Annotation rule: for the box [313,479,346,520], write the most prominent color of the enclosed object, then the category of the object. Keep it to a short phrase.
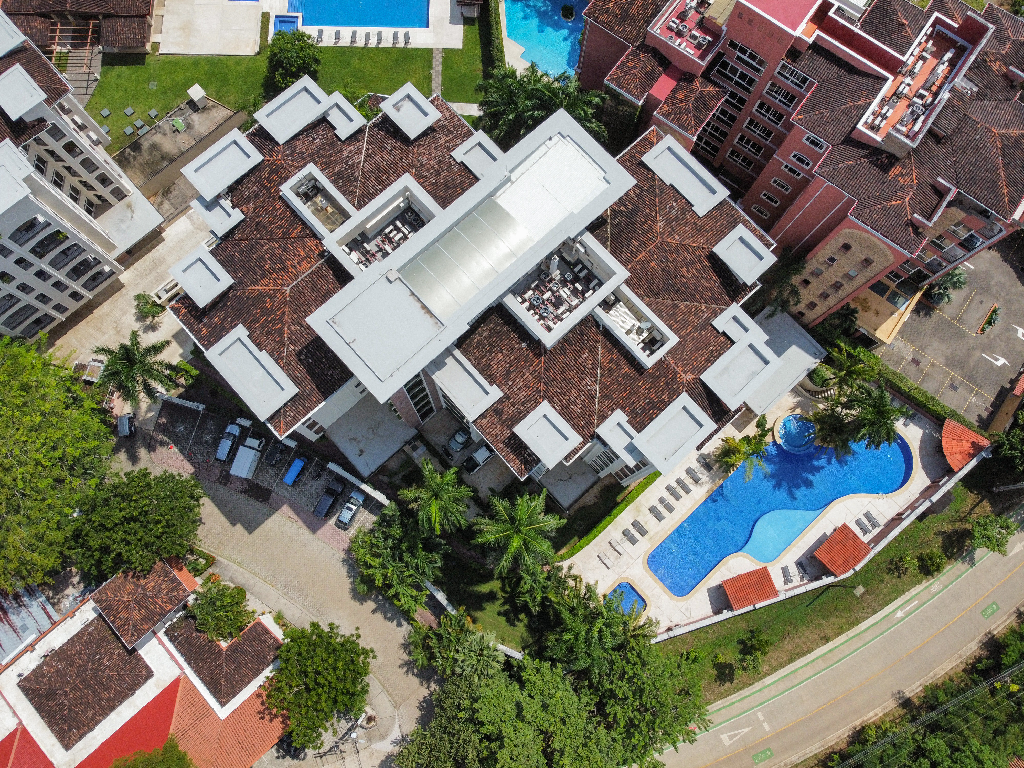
black car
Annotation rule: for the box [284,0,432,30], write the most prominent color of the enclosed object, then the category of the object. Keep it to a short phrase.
blue swimming pool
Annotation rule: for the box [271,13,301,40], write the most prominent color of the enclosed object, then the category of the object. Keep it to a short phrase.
blue swimming pool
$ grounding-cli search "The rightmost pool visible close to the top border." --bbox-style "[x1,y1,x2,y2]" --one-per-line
[505,0,588,79]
